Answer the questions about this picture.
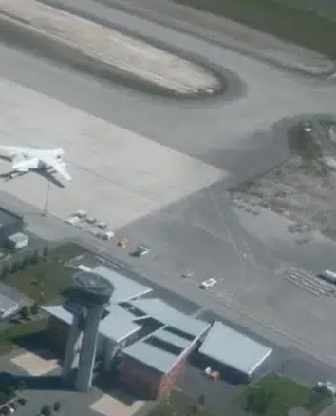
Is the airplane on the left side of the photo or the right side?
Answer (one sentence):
The airplane appears in the left half of the scene.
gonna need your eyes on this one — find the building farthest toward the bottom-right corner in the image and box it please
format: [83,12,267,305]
[198,321,274,384]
